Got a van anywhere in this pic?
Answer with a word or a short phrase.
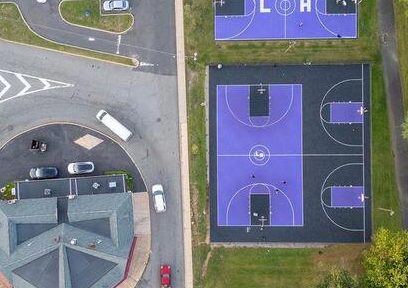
Yes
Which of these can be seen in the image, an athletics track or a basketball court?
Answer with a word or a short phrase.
basketball court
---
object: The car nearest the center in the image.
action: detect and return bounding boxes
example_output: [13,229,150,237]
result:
[153,184,165,212]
